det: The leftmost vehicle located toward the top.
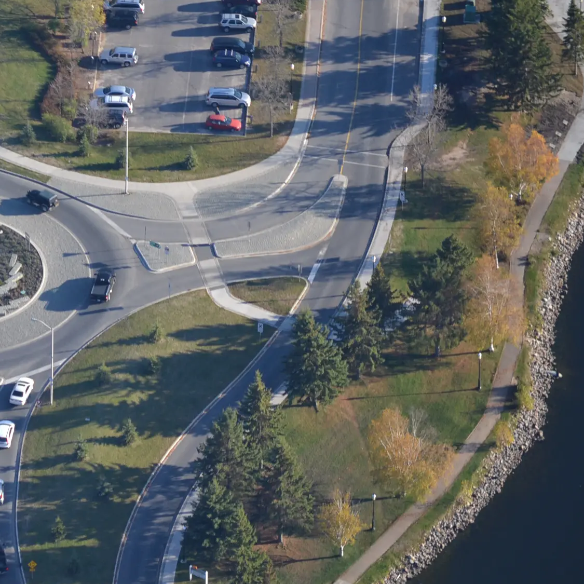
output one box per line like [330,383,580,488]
[22,185,62,209]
